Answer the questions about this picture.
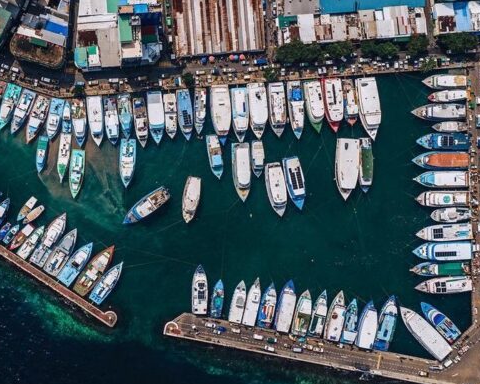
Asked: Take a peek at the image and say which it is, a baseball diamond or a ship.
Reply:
ship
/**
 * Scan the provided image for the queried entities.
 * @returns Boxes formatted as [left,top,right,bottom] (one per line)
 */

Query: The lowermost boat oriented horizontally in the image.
[414,278,474,296]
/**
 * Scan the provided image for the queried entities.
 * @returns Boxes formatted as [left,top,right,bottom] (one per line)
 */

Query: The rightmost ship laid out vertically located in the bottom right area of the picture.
[375,295,398,352]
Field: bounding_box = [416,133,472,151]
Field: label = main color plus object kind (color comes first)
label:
blue boat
